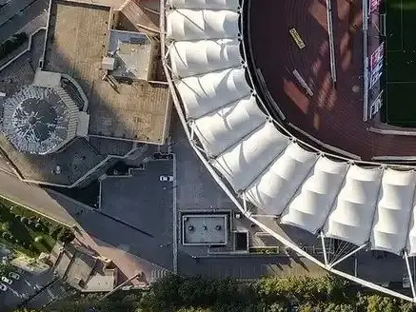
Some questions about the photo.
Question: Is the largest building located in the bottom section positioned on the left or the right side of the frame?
left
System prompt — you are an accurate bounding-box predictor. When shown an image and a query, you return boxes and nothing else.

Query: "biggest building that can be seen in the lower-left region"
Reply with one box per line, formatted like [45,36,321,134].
[52,227,124,291]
